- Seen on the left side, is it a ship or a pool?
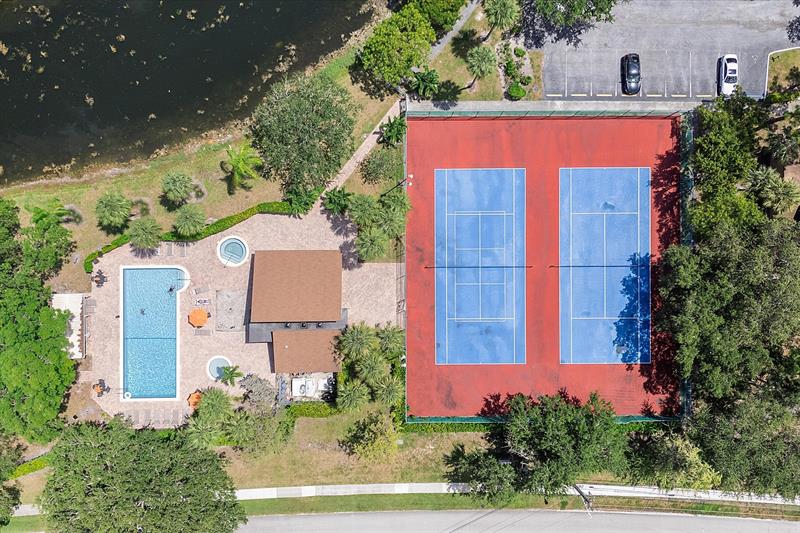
pool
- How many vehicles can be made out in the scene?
two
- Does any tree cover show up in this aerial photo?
Yes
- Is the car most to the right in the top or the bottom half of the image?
top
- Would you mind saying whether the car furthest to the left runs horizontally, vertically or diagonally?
vertically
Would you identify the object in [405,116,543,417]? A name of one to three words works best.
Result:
tennis court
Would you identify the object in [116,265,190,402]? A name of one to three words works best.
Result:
swimming pool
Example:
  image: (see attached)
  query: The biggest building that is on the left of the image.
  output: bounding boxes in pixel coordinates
[248,250,348,373]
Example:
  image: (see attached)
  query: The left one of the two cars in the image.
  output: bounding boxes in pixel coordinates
[623,53,642,95]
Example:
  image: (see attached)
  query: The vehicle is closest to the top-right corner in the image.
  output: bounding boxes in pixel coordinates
[718,55,739,96]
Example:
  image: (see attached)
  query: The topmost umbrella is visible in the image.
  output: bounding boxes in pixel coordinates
[189,308,209,327]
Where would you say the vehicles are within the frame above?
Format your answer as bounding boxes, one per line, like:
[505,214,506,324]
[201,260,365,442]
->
[623,53,642,95]
[718,55,739,96]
